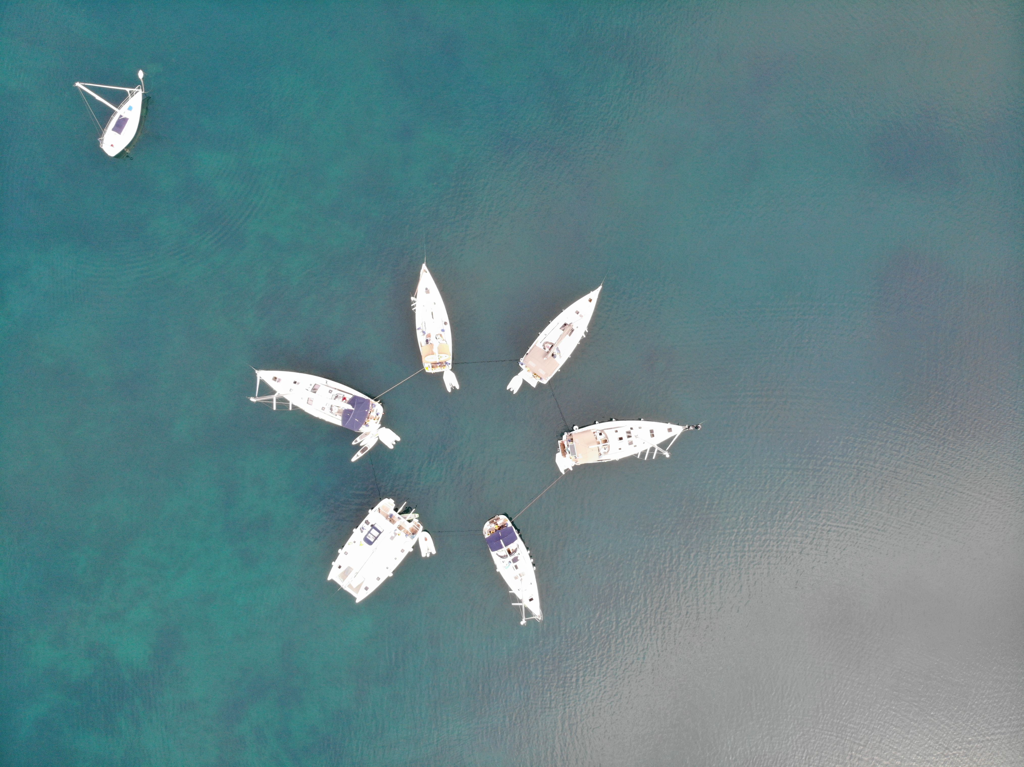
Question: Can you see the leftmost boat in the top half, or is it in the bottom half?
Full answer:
It is in the top half that the leftmost boat appears.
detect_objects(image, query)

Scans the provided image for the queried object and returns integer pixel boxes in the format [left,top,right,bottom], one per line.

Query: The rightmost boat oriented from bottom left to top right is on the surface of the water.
[518,285,603,387]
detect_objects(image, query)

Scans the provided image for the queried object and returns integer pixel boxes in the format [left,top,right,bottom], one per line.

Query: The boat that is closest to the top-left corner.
[77,82,145,156]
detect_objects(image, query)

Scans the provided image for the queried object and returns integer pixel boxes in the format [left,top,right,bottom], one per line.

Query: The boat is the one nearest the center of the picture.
[506,375,523,396]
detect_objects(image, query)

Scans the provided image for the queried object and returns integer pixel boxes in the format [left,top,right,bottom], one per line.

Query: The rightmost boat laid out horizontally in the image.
[558,421,684,465]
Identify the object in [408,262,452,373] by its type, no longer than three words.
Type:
boat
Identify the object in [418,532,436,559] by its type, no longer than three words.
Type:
boat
